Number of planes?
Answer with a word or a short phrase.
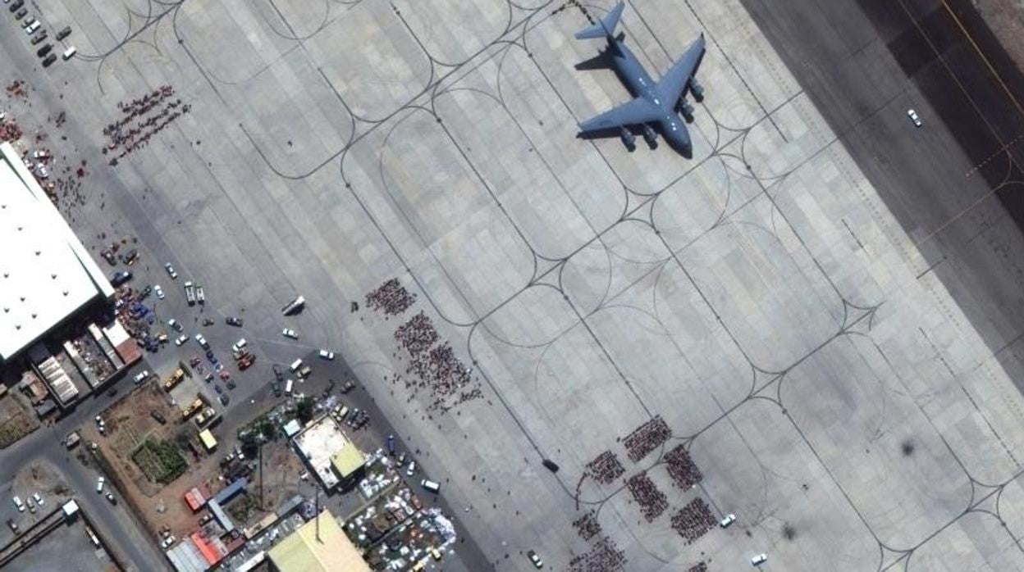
1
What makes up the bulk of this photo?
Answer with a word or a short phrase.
paved ground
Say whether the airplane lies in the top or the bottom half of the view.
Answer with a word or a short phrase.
top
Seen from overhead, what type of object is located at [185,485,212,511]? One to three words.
shed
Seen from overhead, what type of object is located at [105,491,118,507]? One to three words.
vehicle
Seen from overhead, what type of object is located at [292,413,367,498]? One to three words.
building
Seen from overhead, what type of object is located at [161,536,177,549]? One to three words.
vehicle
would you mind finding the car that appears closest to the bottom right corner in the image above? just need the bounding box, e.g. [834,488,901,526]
[750,554,767,566]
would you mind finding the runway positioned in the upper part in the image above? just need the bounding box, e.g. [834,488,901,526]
[856,0,1024,236]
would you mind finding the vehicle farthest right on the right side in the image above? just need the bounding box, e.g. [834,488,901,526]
[907,110,922,126]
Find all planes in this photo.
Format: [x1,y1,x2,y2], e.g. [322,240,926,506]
[571,2,704,157]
